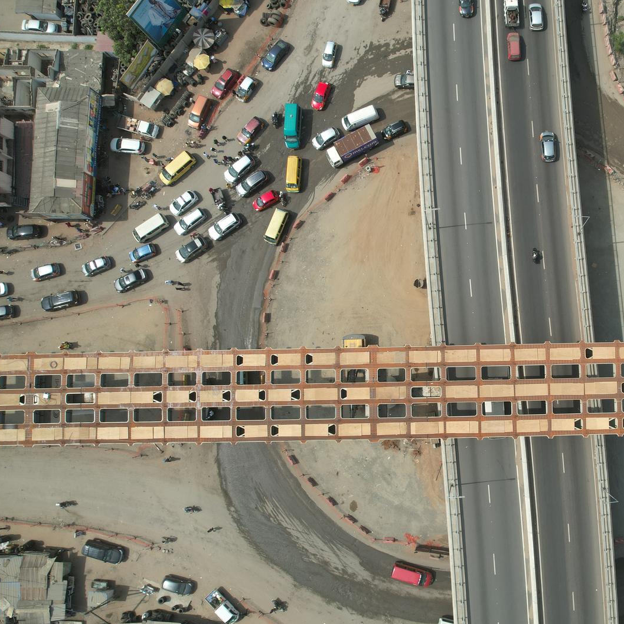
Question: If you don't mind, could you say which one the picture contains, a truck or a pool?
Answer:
truck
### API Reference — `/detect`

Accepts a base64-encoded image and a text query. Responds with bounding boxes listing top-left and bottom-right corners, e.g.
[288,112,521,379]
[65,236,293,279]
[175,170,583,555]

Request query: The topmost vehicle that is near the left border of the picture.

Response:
[22,18,60,31]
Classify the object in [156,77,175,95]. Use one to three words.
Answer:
umbrella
